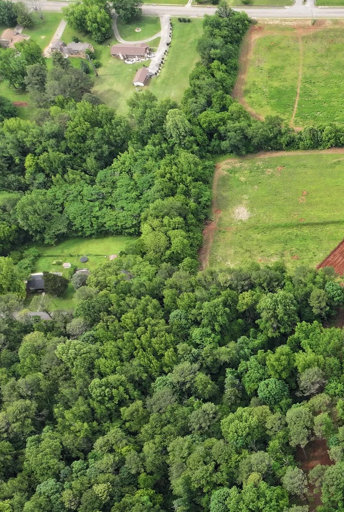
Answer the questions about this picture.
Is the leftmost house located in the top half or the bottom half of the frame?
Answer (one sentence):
The leftmost house is in the top half of the image.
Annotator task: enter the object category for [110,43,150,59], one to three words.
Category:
house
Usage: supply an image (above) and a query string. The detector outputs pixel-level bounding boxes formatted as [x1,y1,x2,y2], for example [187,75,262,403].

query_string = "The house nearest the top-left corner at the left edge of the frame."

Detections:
[0,29,32,51]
